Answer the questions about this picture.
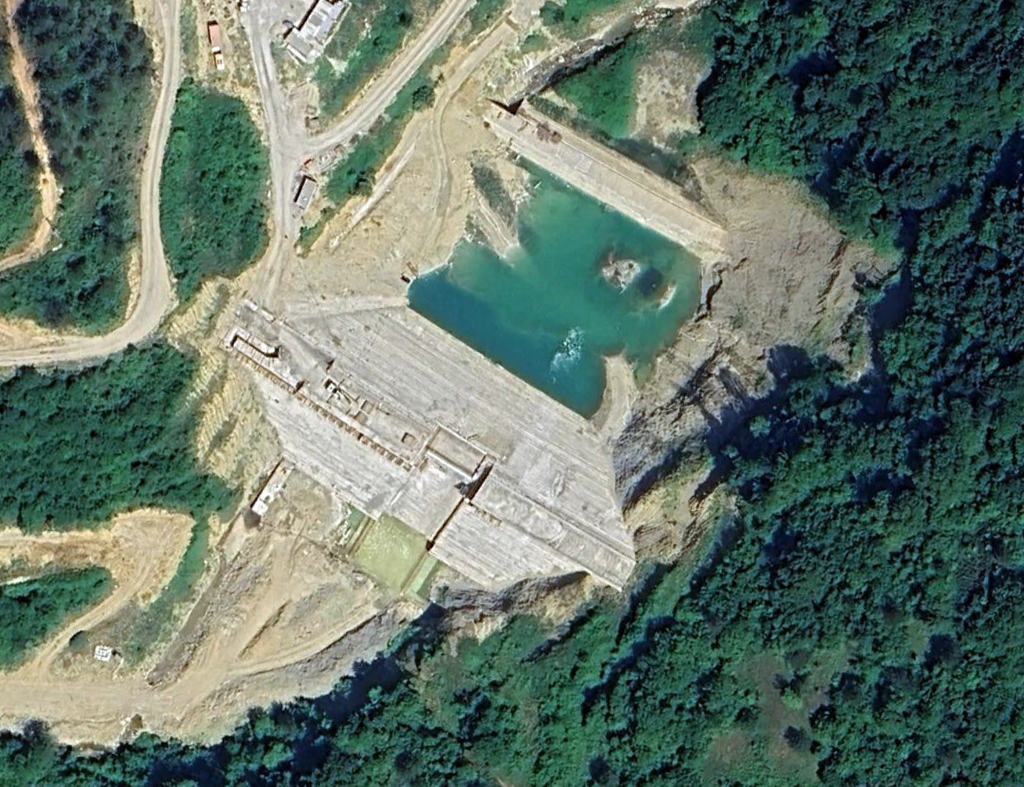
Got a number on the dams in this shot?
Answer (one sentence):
Altogether the scene contains 2 dams.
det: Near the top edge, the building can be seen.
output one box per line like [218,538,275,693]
[286,0,349,60]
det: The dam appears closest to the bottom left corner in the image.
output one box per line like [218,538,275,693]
[223,298,638,593]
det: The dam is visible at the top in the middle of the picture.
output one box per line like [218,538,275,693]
[483,100,721,248]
